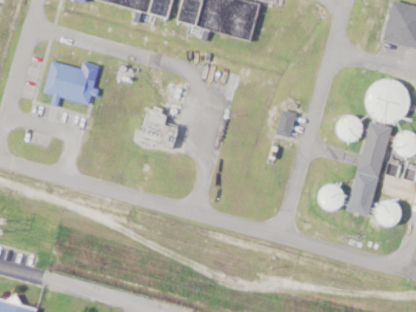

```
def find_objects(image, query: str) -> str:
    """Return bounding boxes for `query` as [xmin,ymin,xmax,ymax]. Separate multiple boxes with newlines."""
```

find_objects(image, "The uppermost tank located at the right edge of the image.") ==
[364,78,411,124]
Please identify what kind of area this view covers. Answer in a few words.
industrial area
